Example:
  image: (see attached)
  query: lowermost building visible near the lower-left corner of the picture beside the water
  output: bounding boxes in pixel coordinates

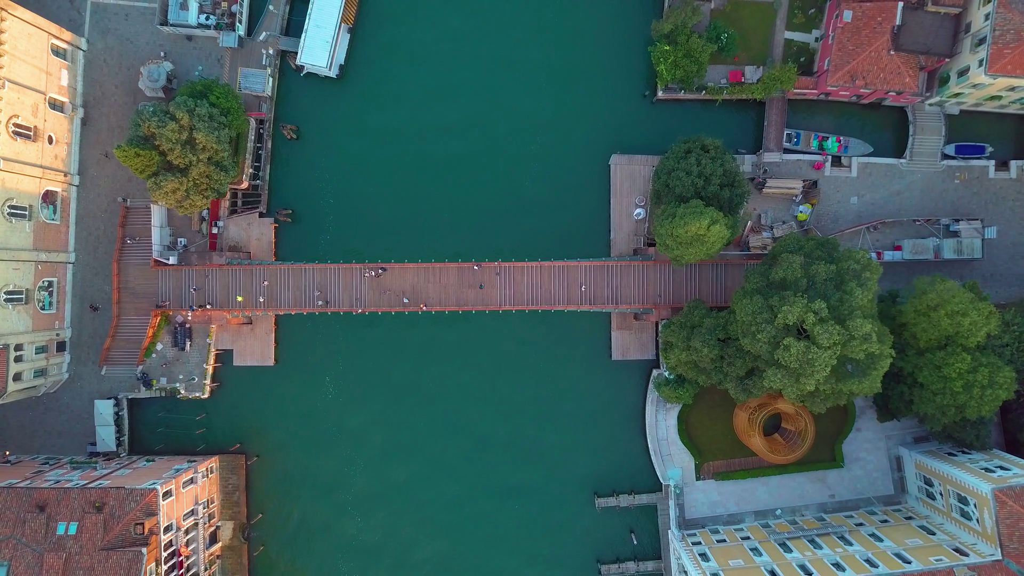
[0,454,220,576]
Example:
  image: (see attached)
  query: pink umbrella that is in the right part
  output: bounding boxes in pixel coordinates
[728,70,742,82]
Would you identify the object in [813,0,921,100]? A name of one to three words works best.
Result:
house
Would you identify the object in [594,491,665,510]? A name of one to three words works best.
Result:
pier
